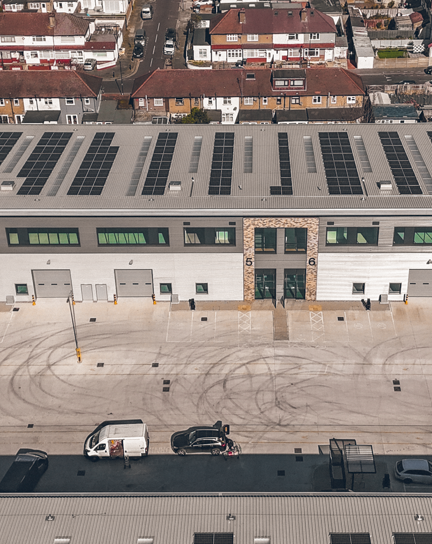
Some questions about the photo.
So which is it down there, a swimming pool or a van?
van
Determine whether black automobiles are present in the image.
Yes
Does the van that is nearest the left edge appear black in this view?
Yes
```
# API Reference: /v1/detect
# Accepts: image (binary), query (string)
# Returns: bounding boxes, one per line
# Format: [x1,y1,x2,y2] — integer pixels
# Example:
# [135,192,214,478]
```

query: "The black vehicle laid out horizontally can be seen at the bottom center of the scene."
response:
[176,428,239,458]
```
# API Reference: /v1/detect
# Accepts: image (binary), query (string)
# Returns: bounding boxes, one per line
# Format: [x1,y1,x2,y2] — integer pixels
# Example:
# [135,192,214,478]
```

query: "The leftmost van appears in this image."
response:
[0,448,57,494]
